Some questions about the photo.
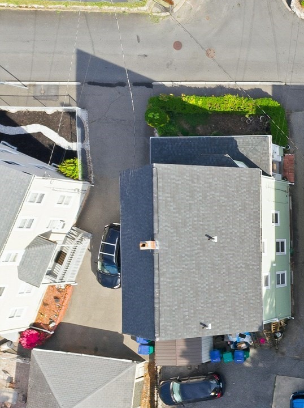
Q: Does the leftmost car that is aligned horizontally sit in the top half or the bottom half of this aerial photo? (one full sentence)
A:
Seen from above, the leftmost car that is aligned horizontally lies in the bottom half of the view.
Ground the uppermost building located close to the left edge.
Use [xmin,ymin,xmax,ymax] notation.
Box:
[0,142,98,331]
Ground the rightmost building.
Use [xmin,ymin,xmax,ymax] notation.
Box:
[120,135,295,366]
